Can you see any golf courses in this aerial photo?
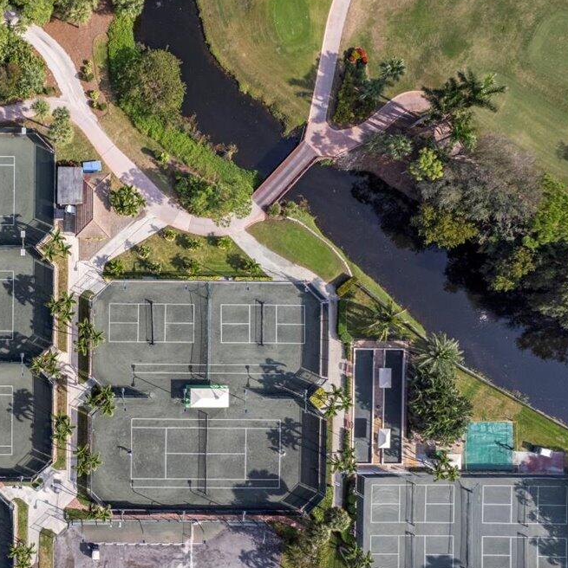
Yes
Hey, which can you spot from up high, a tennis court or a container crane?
tennis court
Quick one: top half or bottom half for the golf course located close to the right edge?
top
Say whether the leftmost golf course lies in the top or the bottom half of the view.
top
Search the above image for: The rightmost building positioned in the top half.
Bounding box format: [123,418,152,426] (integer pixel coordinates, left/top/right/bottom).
[76,173,111,238]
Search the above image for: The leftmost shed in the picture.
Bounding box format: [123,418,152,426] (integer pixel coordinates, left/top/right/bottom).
[58,164,82,204]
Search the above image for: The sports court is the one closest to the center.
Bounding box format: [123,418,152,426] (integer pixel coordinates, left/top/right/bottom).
[206,283,319,398]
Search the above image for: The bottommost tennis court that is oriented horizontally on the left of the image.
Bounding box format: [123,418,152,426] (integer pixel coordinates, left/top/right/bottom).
[89,398,320,510]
